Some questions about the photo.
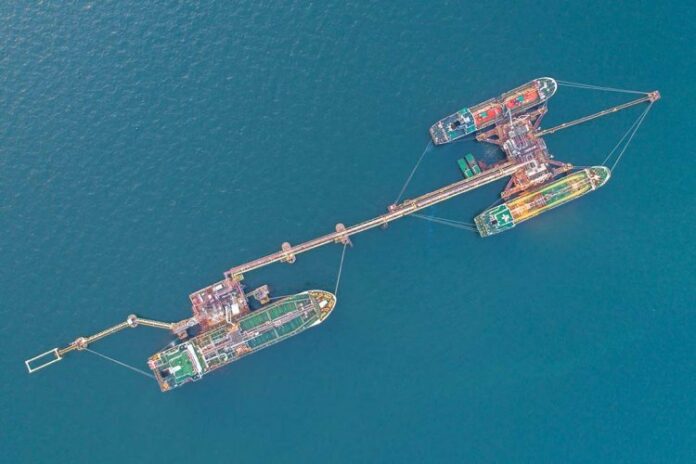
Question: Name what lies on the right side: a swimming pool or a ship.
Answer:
ship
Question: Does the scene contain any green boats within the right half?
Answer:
Yes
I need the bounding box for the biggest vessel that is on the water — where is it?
[150,289,336,388]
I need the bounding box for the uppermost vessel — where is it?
[430,77,557,145]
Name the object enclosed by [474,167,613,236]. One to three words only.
ship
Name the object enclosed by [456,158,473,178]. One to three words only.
boat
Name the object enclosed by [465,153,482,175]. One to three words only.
boat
